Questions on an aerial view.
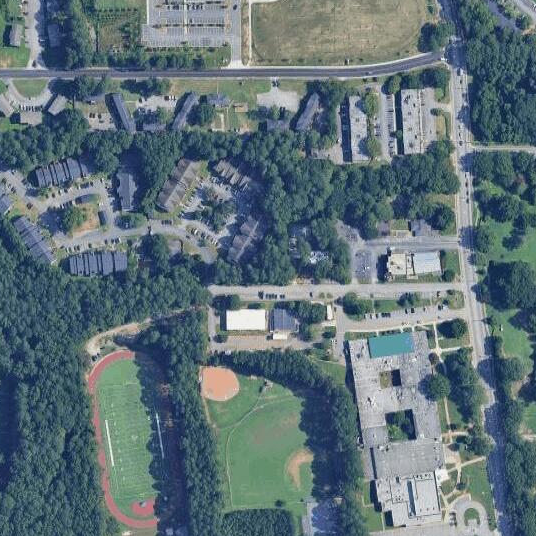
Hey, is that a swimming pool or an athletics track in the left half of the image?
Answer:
athletics track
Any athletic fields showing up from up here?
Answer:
Yes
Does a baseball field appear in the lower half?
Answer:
Yes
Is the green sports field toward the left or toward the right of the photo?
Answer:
left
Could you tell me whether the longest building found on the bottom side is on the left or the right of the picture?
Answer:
right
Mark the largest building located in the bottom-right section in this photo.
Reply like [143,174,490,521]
[350,331,449,526]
